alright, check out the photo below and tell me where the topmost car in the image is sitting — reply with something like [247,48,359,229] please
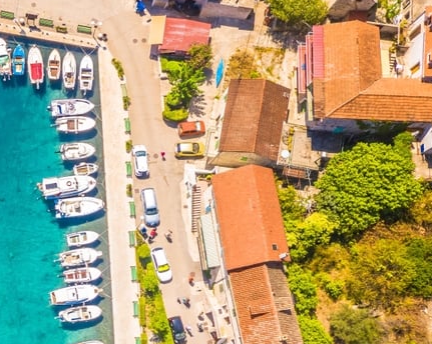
[177,120,205,139]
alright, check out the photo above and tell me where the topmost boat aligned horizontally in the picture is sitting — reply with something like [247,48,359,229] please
[48,98,100,118]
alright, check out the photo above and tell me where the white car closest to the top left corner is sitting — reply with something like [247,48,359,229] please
[131,144,151,180]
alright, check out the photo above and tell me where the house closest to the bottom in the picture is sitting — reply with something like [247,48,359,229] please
[218,265,302,344]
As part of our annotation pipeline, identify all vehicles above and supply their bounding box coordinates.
[131,144,151,180]
[177,120,205,139]
[150,245,173,283]
[140,188,161,228]
[167,313,190,344]
[174,141,205,159]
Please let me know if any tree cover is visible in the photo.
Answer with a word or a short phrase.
Yes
